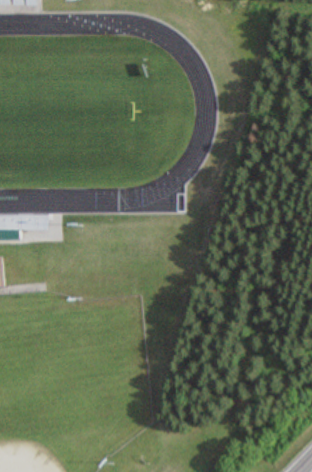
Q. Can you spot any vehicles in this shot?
No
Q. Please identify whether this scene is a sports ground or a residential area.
sports ground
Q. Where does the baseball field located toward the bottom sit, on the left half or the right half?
left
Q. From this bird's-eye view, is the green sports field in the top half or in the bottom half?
top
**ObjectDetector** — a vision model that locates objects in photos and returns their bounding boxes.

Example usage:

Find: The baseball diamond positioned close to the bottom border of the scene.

[0,441,63,472]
